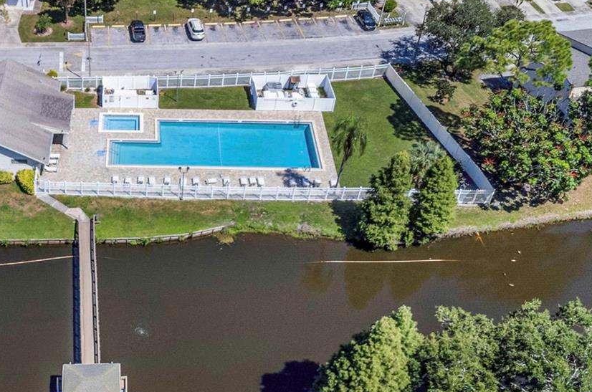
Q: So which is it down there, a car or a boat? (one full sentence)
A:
It is a car that can be seen here.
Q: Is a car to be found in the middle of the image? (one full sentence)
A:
No, there's no car to be seen in the middle of the image.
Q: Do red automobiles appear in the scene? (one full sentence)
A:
No, there appears to be no red automobile in this shot.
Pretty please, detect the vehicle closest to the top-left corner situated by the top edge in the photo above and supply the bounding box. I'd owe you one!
[130,19,145,41]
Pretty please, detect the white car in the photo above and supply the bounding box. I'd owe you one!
[188,19,205,38]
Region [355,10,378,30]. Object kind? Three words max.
car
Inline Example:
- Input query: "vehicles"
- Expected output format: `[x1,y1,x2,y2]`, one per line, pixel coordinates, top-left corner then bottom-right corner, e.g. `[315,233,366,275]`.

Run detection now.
[355,10,378,30]
[188,19,205,38]
[130,19,145,41]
